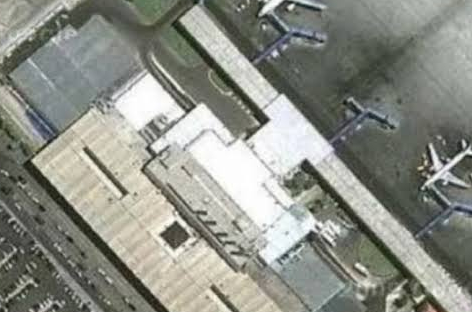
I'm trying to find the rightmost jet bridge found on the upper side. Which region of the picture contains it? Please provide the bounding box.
[330,95,398,144]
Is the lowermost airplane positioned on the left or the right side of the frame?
right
